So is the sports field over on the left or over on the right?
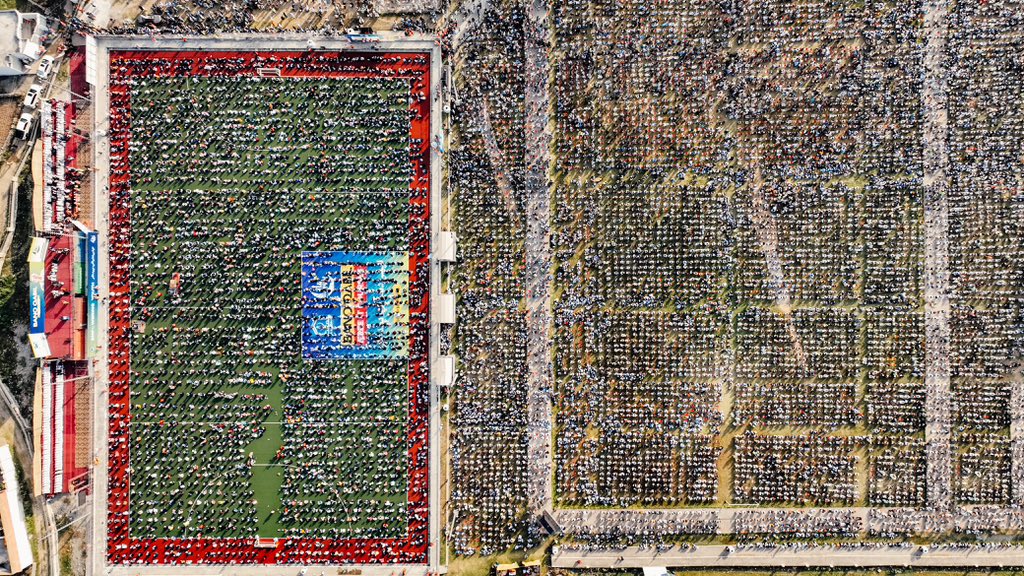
left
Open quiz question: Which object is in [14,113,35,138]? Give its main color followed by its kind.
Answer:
white car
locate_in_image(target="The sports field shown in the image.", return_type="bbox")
[108,51,429,563]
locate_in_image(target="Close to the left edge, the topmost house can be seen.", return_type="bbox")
[0,10,53,63]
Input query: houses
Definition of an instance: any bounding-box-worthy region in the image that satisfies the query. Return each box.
[0,10,53,63]
[0,436,40,576]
